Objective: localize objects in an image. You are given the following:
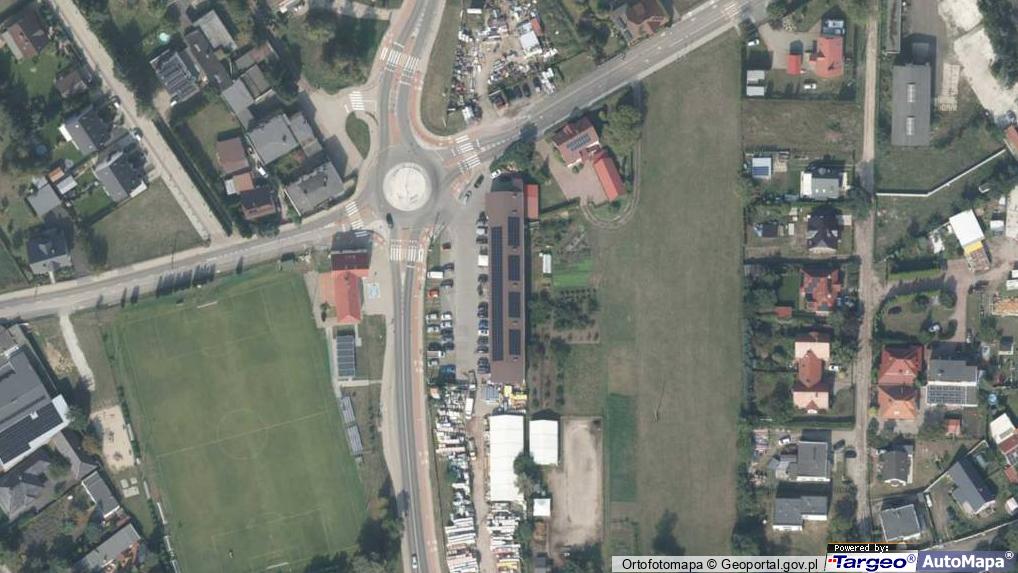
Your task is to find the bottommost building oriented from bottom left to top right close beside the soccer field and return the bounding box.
[70,523,141,573]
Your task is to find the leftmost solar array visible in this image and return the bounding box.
[0,403,61,462]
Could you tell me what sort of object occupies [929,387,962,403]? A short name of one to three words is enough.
solar array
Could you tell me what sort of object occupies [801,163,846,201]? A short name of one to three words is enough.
house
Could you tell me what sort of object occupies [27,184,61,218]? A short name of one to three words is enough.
building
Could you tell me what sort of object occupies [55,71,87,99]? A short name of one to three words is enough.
shed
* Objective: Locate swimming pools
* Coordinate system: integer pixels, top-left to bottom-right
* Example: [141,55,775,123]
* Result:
[159,31,169,43]
[988,393,998,404]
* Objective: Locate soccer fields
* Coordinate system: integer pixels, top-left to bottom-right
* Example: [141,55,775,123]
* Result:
[110,267,370,573]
